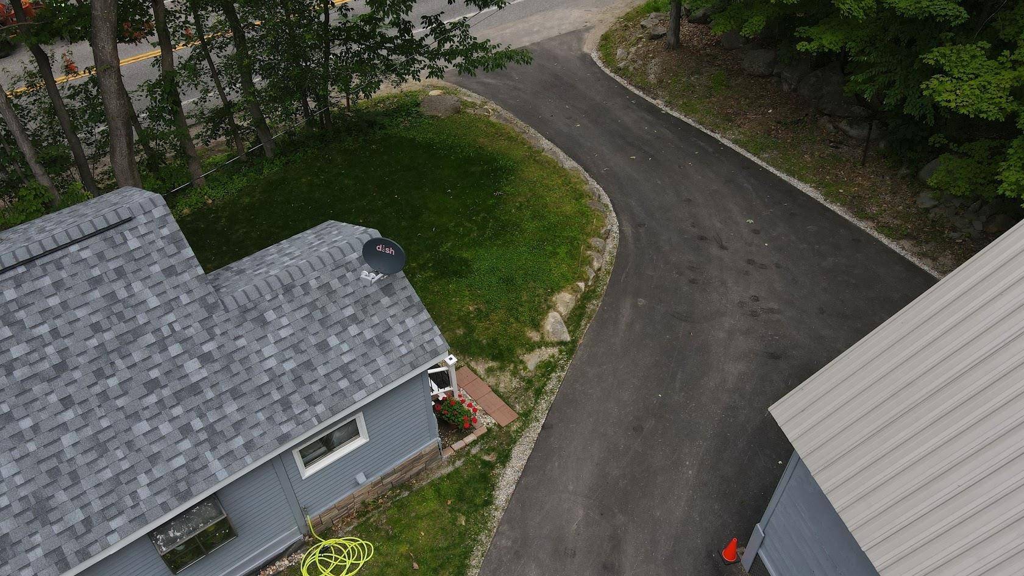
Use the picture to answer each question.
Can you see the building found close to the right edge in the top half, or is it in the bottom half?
bottom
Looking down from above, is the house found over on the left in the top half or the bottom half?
bottom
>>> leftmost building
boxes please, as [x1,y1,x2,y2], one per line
[0,186,452,576]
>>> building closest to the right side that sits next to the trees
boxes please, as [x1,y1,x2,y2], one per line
[742,216,1024,576]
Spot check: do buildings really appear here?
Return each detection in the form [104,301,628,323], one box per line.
[742,216,1024,576]
[0,186,452,576]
